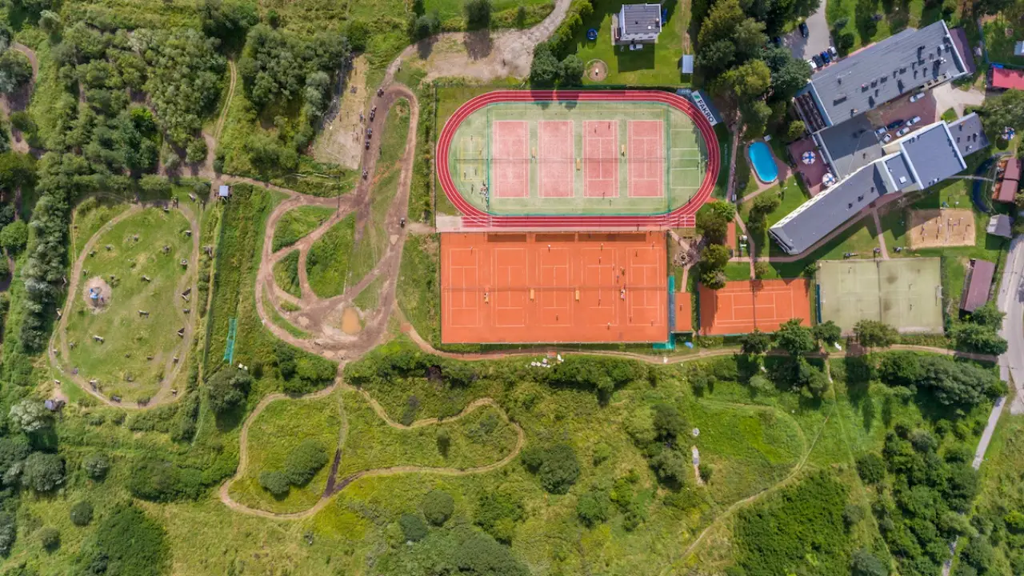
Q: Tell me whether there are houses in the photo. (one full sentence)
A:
Yes, looking at the shot, I can spot a house.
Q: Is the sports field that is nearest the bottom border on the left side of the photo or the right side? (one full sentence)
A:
It is on the right.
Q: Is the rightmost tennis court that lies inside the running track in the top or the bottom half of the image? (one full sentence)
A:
Seen from above, the rightmost tennis court that lies inside the running track lies in the top half of the view.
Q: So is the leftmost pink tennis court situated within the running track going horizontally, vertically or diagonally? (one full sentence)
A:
The leftmost pink tennis court situated within the running track is oriented vertically.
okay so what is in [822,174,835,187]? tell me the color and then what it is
white umbrella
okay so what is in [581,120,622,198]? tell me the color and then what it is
pink tennis court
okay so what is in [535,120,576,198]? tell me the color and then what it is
pink tennis court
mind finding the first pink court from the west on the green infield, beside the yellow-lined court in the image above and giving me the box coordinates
[490,120,531,198]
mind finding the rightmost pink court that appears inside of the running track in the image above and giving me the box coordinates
[626,120,667,198]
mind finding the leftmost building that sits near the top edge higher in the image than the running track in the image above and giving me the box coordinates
[621,3,662,42]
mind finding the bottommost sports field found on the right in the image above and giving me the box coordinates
[816,257,945,336]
